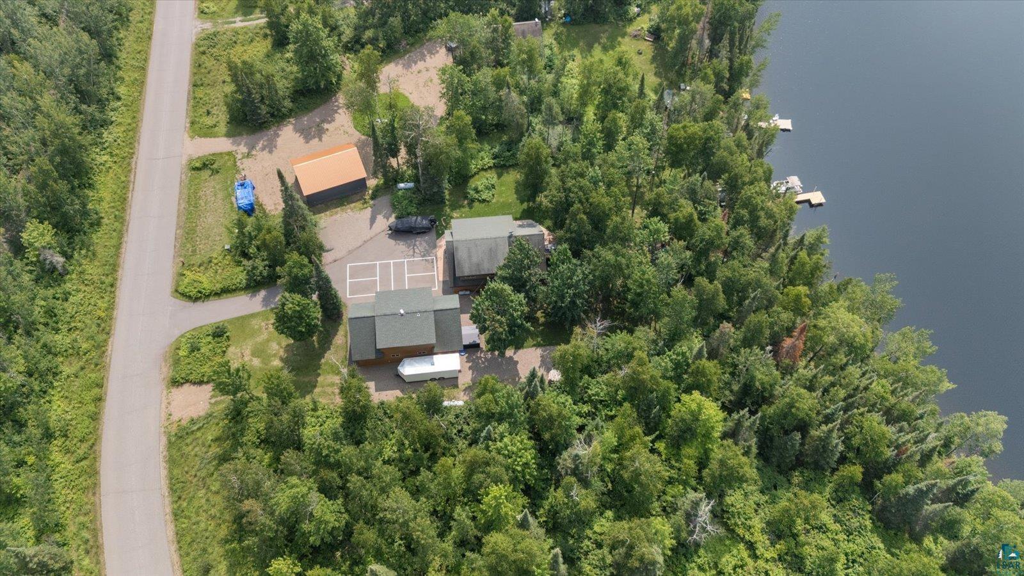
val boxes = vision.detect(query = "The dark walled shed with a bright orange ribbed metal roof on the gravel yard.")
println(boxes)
[291,141,367,204]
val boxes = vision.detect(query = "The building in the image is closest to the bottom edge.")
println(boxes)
[349,288,464,366]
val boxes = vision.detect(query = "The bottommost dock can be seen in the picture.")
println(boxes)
[787,186,826,207]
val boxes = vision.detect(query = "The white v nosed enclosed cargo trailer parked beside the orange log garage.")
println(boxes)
[393,354,464,382]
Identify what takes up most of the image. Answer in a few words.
trees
